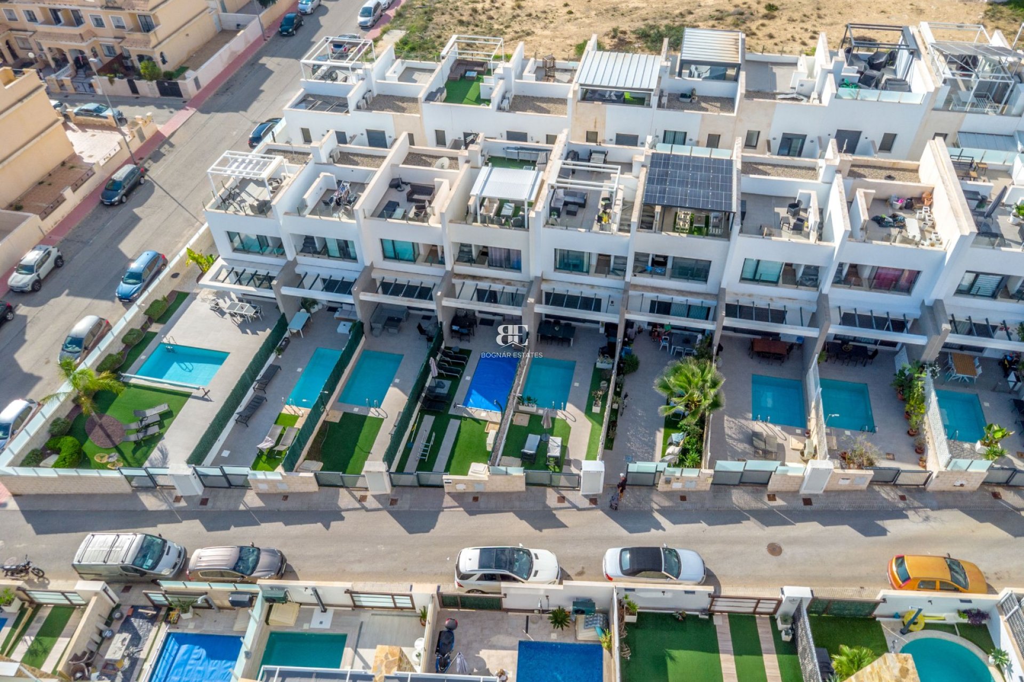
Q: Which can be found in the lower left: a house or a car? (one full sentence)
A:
Looking in the lower left, you will find a car.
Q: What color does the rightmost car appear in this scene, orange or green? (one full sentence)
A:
In this view, the rightmost car is orange.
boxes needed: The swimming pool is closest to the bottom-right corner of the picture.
[900,638,992,682]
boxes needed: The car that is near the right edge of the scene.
[884,551,990,591]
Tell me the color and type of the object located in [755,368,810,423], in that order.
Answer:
blue swimming pool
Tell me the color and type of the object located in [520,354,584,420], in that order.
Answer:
blue swimming pool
